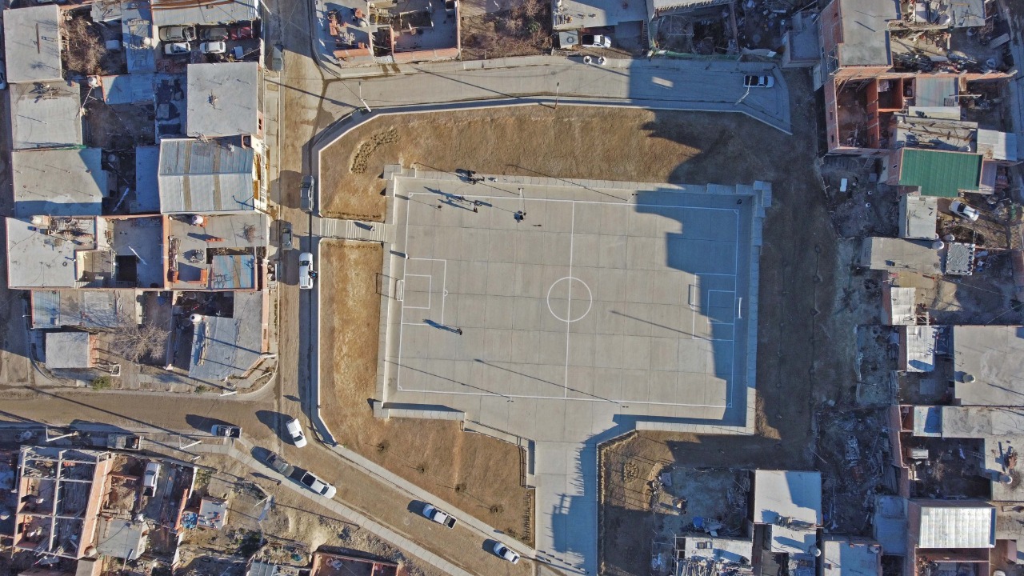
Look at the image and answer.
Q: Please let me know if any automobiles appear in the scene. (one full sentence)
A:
Yes, the picture does show an automobile.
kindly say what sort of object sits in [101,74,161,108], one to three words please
shed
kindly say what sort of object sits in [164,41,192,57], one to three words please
car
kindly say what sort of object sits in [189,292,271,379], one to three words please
house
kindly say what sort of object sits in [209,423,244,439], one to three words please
vehicle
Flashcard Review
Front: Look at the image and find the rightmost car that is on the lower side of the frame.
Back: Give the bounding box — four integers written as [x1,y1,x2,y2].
[491,541,522,563]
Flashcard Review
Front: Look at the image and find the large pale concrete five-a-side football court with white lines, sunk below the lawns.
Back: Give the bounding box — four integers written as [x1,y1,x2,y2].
[385,174,750,569]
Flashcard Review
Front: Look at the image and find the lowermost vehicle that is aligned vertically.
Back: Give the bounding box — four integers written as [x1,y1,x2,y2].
[143,460,163,497]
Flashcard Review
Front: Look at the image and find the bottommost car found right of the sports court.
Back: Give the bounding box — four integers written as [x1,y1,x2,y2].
[944,199,982,223]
